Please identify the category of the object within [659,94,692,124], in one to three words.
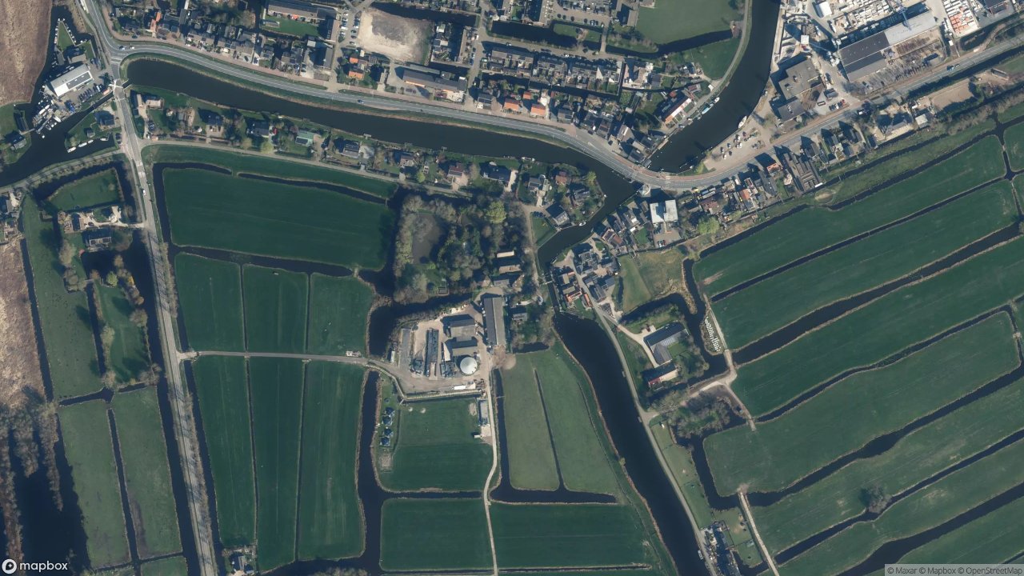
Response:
house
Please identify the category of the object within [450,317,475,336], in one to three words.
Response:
barn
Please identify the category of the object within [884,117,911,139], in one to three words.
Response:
house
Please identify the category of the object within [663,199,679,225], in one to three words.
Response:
building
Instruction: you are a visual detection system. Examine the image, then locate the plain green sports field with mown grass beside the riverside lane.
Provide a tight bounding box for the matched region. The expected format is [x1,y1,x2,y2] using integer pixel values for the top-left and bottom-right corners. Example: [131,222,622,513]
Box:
[638,0,746,43]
